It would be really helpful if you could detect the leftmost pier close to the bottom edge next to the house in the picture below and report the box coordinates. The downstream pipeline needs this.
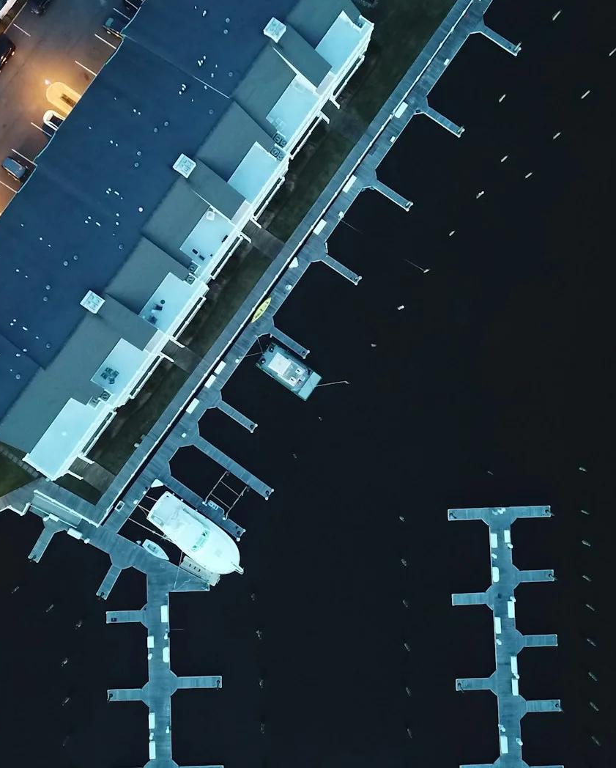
[26,496,226,768]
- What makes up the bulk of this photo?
water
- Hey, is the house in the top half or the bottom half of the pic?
top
